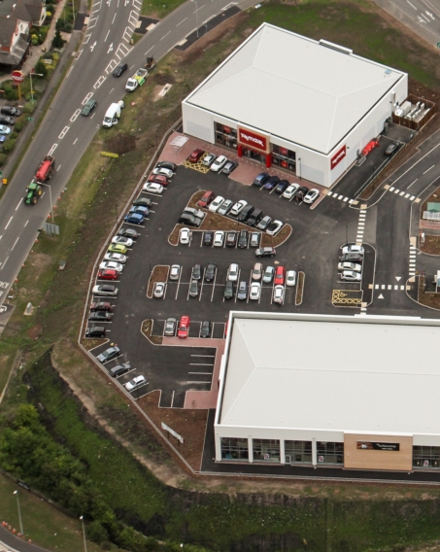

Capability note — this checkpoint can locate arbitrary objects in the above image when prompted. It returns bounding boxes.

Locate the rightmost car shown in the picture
[386,141,401,154]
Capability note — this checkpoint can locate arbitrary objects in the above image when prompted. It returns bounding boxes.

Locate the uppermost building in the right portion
[183,21,407,187]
